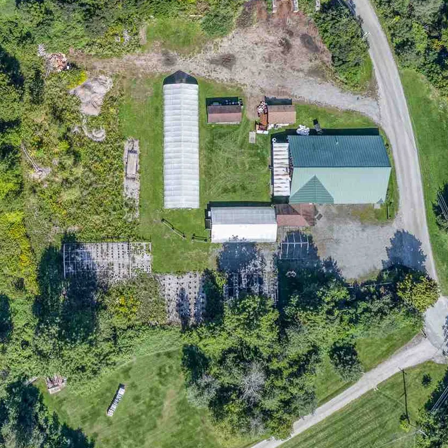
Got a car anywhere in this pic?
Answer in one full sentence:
No, the photo shows no car.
